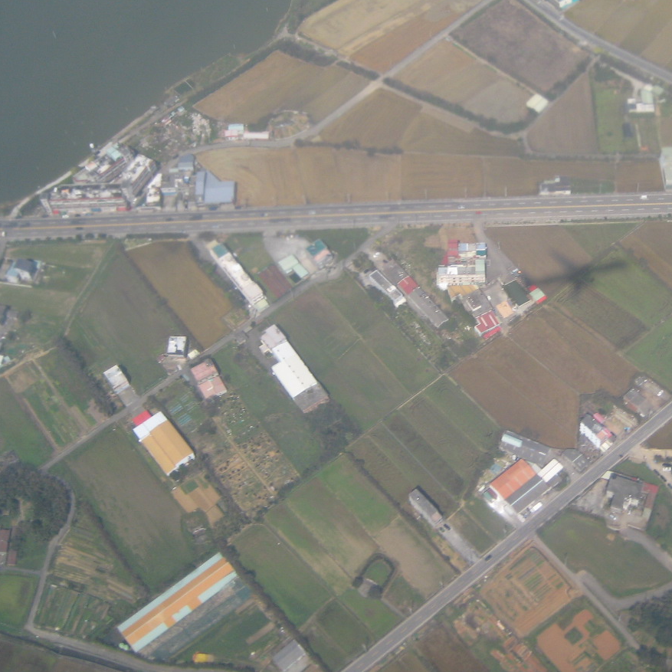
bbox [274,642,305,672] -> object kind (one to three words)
shed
